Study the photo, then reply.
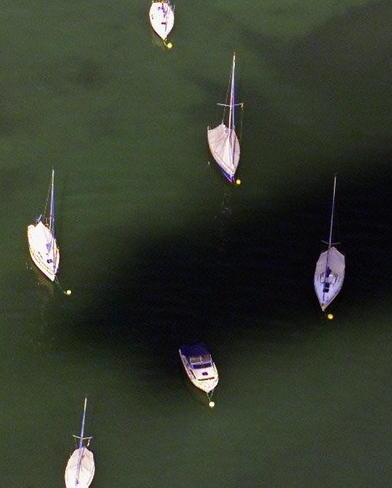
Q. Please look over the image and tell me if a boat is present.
Yes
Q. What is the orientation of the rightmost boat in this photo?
vertically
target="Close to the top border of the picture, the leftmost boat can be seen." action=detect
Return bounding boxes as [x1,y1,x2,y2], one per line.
[150,0,176,45]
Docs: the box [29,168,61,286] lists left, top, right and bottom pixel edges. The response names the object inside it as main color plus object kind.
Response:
white boat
